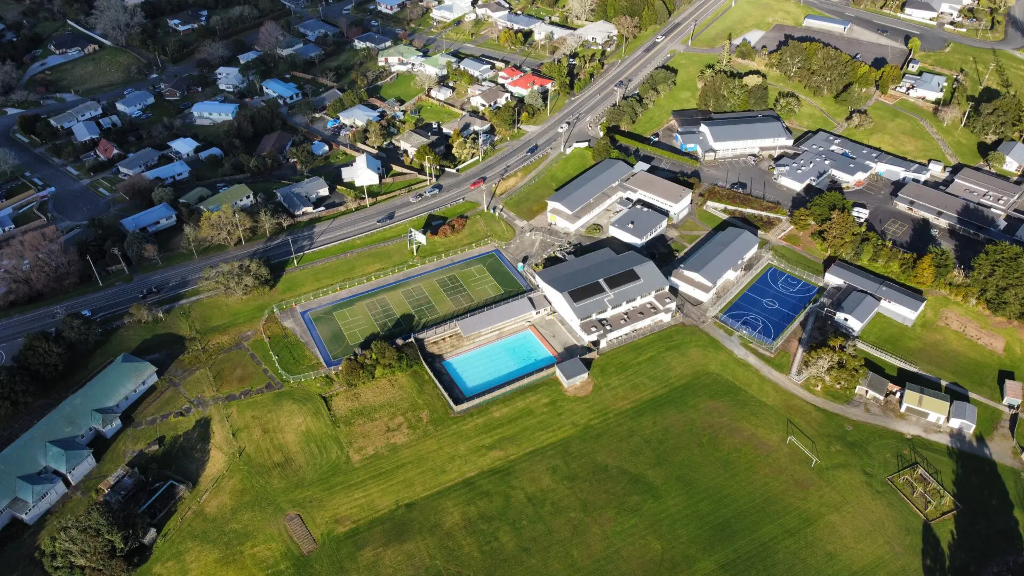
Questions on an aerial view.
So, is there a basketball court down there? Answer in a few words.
Yes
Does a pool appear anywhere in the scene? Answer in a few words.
Yes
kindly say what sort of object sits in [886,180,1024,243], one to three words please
building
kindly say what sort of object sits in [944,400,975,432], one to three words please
shed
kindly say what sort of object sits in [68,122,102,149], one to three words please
house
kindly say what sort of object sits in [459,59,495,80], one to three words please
house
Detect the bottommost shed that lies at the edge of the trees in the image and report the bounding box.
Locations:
[139,527,164,550]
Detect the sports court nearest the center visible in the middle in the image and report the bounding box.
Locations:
[301,249,535,364]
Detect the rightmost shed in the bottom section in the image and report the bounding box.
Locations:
[992,377,1021,412]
